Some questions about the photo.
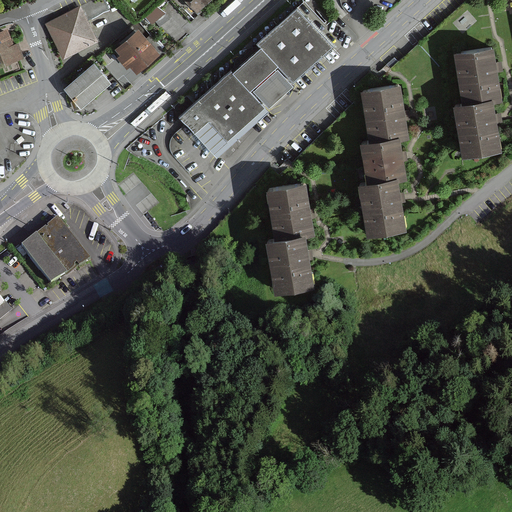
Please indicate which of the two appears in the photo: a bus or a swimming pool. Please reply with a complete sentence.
Looking from above, you can make out a bus.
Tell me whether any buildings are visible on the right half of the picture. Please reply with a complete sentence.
Yes, a building shows up on the right half of the picture.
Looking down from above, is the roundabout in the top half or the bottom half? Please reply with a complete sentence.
It is in the top half that the roundabout appears.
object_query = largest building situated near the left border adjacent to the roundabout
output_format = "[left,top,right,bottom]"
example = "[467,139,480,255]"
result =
[16,214,91,284]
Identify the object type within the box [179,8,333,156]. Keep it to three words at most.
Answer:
building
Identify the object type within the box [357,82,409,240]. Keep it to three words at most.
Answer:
building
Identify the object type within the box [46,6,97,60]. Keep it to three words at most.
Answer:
house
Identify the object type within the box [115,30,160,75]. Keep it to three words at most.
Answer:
house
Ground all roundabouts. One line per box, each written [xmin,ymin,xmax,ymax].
[36,121,112,196]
